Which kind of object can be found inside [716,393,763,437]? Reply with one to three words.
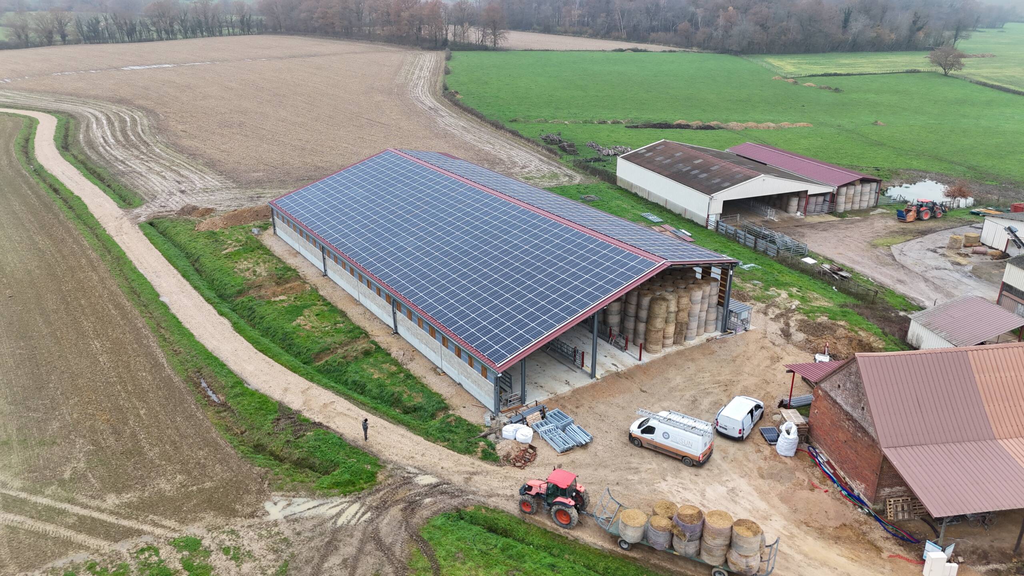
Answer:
van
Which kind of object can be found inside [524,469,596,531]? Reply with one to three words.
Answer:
work vehicle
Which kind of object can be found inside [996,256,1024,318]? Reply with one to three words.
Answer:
shed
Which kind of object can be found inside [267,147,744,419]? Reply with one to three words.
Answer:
barn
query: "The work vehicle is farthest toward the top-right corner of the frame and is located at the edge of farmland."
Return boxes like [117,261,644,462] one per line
[919,197,960,221]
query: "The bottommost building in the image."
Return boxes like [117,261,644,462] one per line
[807,340,1024,554]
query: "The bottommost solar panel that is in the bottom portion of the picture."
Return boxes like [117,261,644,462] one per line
[758,423,779,438]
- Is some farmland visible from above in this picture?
Yes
